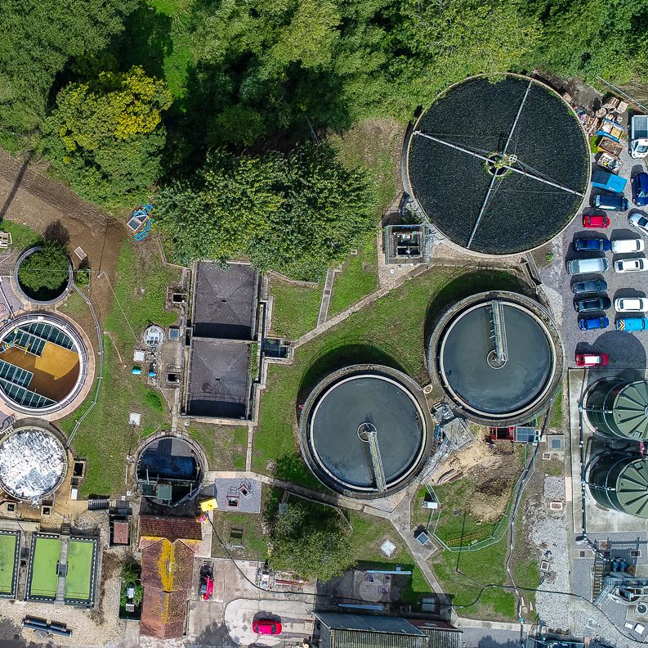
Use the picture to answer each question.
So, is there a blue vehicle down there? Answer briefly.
Yes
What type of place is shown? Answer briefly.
industrial area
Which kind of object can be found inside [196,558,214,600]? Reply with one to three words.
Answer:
work vehicle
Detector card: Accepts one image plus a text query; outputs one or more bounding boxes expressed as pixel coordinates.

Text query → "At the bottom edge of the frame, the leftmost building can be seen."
[138,514,202,638]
